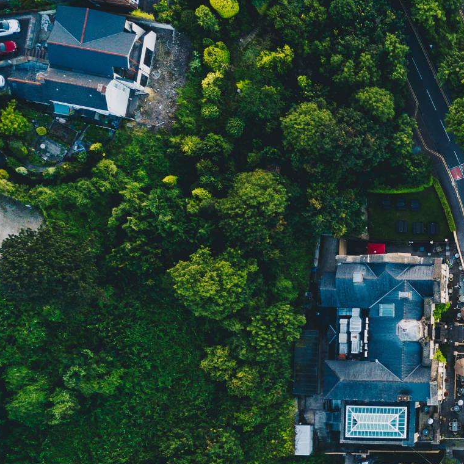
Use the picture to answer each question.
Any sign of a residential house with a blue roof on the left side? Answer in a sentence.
Yes, a residential house with a blue roof can be seen on the left side.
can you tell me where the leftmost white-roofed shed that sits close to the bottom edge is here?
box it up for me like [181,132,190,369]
[296,424,317,456]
